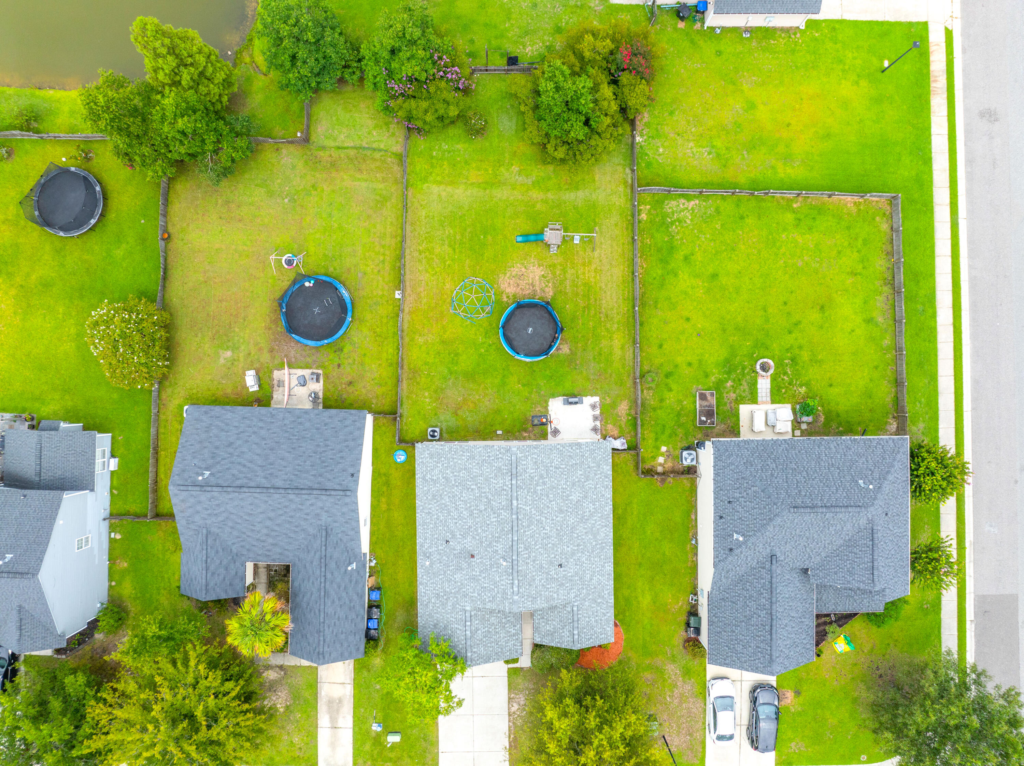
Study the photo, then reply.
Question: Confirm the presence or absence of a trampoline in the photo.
Yes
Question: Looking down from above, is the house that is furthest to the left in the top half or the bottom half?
bottom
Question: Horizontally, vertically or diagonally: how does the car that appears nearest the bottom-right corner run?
vertically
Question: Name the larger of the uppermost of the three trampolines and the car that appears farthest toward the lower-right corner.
the trampoline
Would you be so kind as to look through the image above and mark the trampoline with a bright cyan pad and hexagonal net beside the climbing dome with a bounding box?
[496,297,566,362]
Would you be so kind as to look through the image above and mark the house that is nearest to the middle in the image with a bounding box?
[415,439,614,665]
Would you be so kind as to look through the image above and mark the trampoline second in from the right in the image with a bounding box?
[273,273,356,348]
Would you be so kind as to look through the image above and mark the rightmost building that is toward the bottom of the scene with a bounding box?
[696,434,911,677]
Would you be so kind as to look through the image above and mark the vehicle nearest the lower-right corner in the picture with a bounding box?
[745,680,783,753]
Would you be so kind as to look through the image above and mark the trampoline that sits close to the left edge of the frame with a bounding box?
[19,160,111,239]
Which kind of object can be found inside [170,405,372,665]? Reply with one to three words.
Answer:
house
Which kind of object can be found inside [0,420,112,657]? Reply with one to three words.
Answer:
house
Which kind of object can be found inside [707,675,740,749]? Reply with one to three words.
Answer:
car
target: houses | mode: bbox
[0,420,112,657]
[696,434,911,677]
[415,439,614,665]
[660,0,833,35]
[170,405,372,665]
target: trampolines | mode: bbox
[19,160,111,239]
[273,273,356,348]
[496,297,566,362]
